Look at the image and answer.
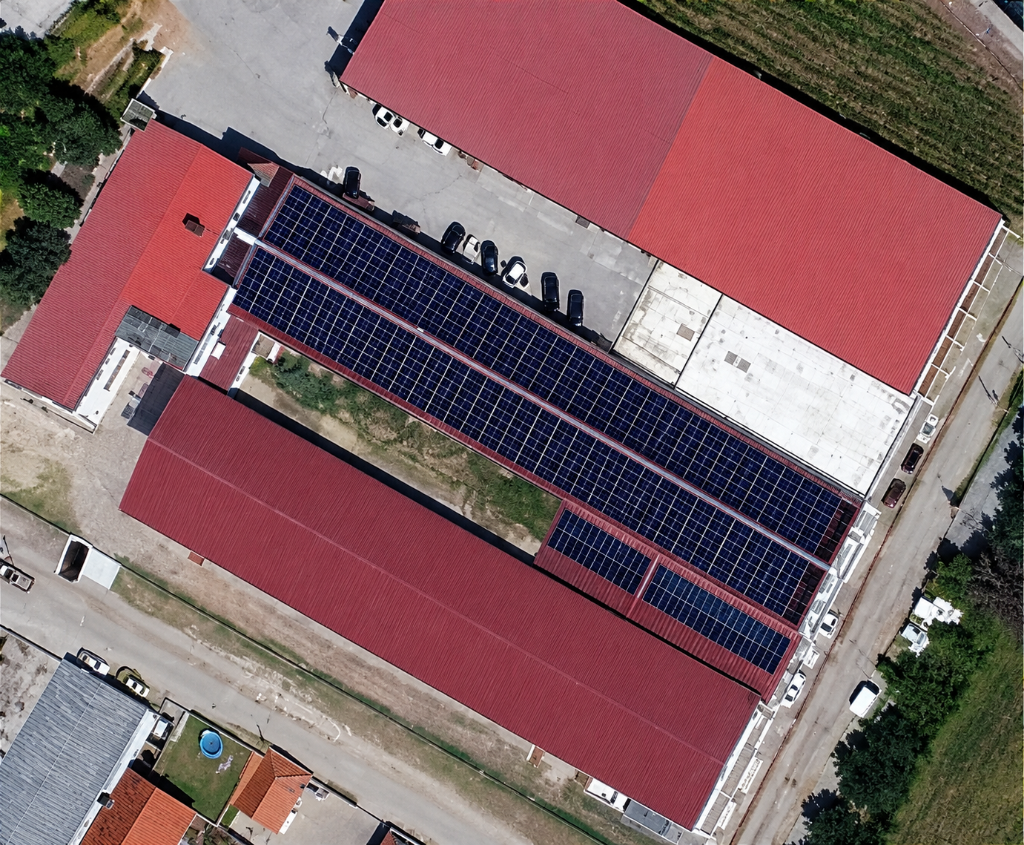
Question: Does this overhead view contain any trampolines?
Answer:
No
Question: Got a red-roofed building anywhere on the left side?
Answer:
Yes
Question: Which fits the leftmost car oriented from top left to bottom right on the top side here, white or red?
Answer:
white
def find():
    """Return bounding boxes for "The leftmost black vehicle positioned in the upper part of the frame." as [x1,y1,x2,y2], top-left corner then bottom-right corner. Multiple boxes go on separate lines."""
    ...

[343,166,361,200]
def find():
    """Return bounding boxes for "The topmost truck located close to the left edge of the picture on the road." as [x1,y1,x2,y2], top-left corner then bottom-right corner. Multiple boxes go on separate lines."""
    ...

[0,563,37,594]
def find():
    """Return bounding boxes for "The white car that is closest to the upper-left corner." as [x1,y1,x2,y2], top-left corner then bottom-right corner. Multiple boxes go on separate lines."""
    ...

[372,106,411,136]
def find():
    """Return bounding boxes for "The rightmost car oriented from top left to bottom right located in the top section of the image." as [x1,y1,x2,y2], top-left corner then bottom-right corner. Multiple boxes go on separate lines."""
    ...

[415,128,454,158]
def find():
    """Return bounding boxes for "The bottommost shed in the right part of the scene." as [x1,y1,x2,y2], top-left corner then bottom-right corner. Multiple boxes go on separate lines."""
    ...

[625,799,684,843]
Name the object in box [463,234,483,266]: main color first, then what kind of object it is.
white car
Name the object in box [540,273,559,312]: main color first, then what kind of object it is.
black car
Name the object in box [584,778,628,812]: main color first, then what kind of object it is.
white van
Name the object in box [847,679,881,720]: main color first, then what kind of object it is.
white van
